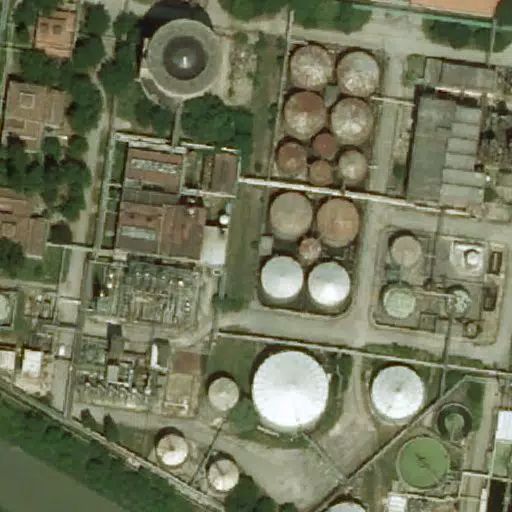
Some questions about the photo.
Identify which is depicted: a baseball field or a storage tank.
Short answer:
storage tank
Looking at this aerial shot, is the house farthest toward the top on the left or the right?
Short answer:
left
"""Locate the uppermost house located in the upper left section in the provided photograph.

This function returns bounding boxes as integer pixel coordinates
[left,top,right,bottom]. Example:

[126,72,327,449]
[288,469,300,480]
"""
[34,9,77,59]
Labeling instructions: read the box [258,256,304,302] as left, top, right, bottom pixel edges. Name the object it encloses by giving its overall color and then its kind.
white storage tank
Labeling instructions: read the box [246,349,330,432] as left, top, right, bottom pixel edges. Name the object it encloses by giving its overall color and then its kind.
white storage tank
